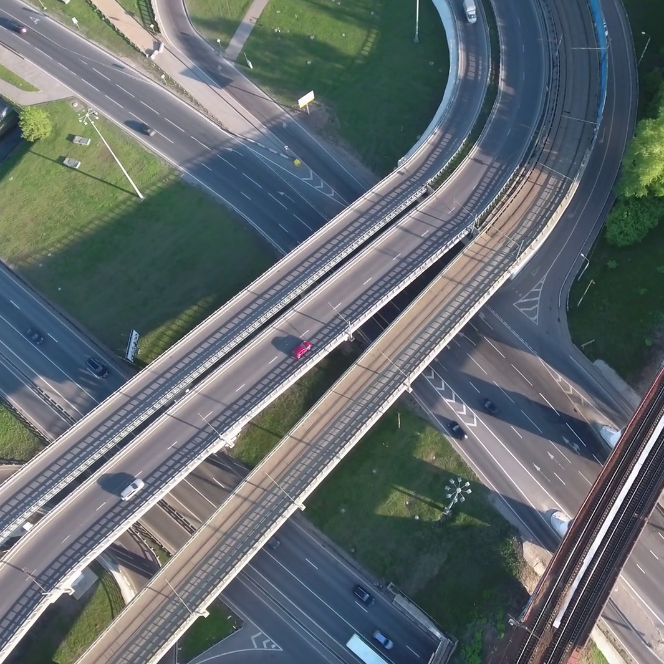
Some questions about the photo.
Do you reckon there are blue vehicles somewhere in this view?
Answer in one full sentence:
Yes, this view includes a blue vehicle.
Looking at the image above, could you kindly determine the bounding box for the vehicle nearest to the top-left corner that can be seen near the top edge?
[5,19,25,34]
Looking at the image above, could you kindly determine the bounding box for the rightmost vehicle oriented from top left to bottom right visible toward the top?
[133,118,155,136]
